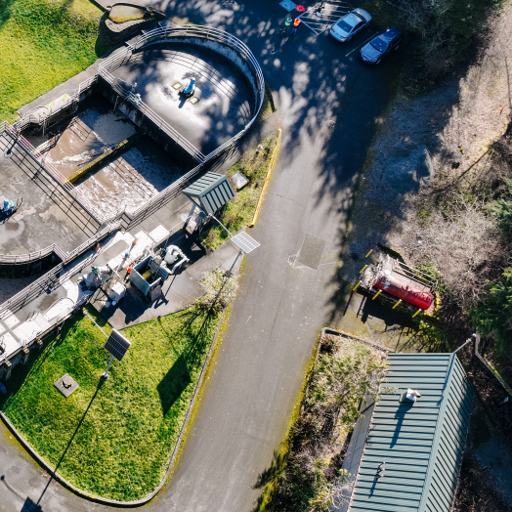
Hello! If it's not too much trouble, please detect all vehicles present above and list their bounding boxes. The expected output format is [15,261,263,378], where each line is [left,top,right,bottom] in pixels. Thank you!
[359,20,407,66]
[329,7,377,45]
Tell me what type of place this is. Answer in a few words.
industrial area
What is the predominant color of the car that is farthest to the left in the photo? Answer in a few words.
blue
